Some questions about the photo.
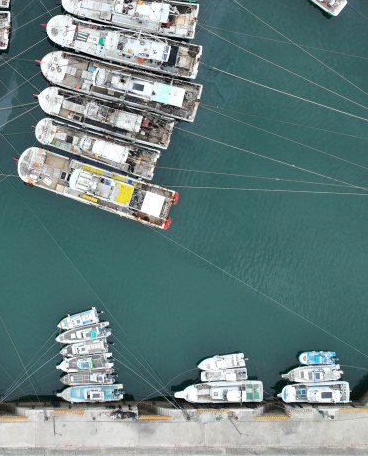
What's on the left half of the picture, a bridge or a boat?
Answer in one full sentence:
The feature located on the left half of the picture is a boat.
